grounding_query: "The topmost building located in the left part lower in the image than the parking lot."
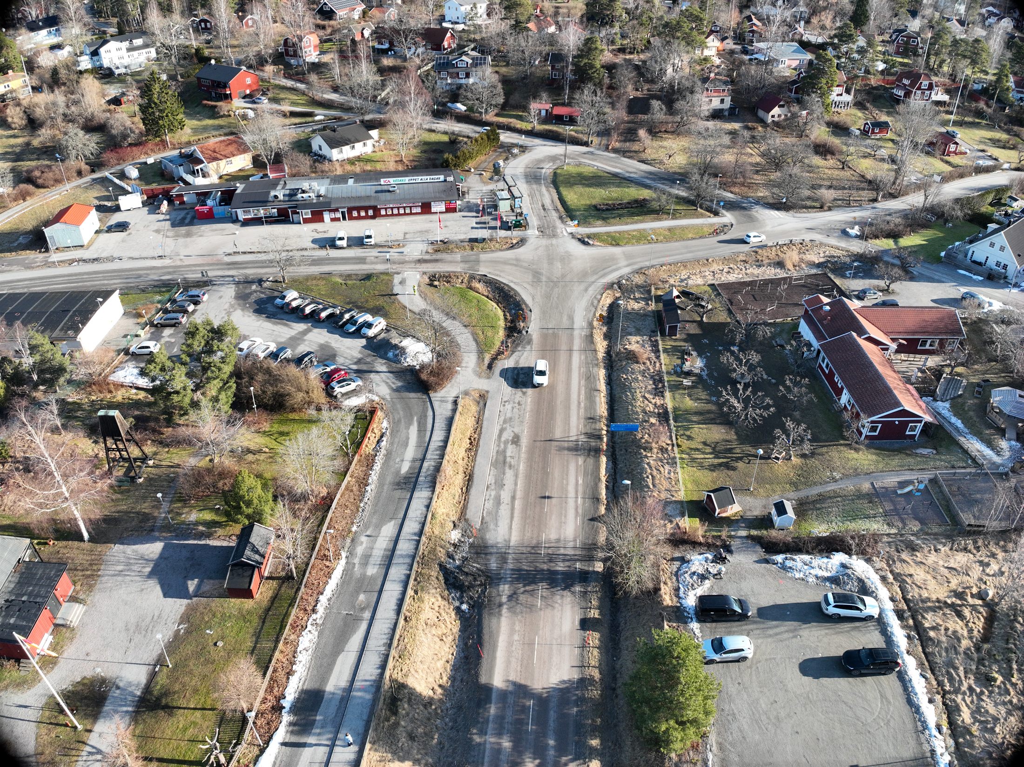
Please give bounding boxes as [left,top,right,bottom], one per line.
[96,407,157,483]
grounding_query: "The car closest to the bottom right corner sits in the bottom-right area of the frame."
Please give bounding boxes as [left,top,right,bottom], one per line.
[840,646,909,677]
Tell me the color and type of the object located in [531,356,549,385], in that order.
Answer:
white car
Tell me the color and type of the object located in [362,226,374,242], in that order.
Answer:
white vehicle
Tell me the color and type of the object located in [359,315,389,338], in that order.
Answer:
white car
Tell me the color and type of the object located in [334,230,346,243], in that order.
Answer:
white vehicle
